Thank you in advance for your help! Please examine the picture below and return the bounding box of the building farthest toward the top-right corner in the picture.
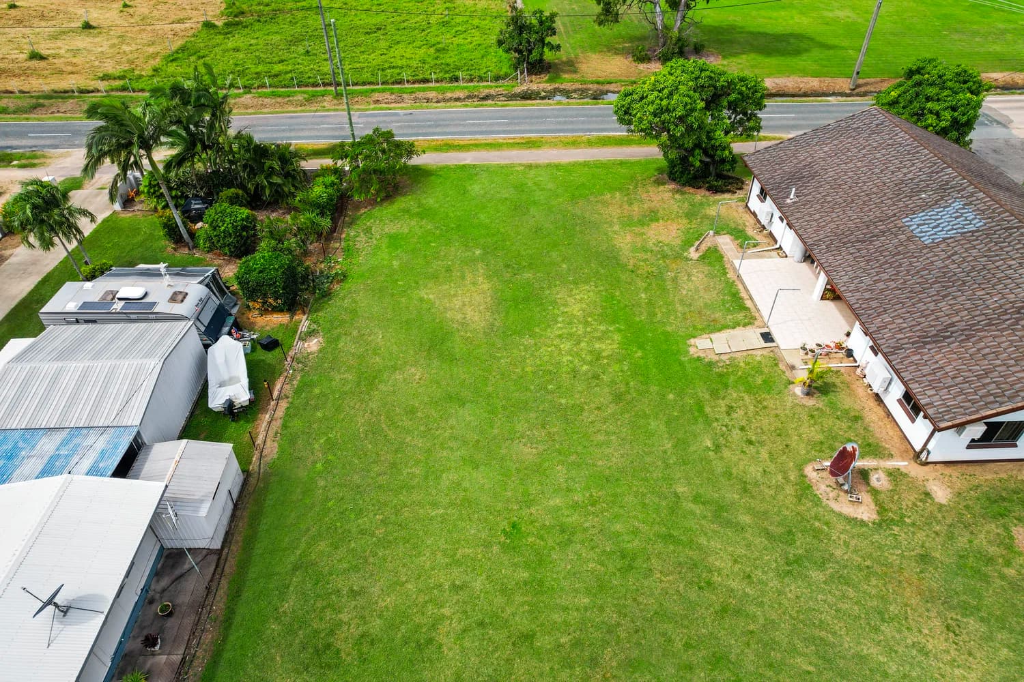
[735,105,1024,458]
